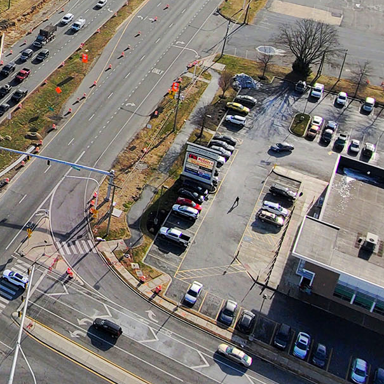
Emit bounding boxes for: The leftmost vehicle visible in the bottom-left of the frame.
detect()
[1,271,30,290]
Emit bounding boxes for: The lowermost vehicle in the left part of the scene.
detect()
[91,317,125,340]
